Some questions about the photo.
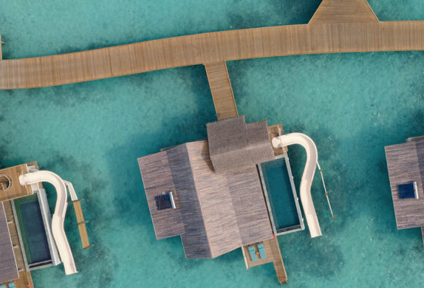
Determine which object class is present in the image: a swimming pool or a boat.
swimming pool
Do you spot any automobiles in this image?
No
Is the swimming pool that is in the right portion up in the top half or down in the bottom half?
bottom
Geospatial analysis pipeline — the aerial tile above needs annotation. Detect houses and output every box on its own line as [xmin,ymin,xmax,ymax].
[137,114,290,282]
[0,158,61,288]
[384,135,424,246]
